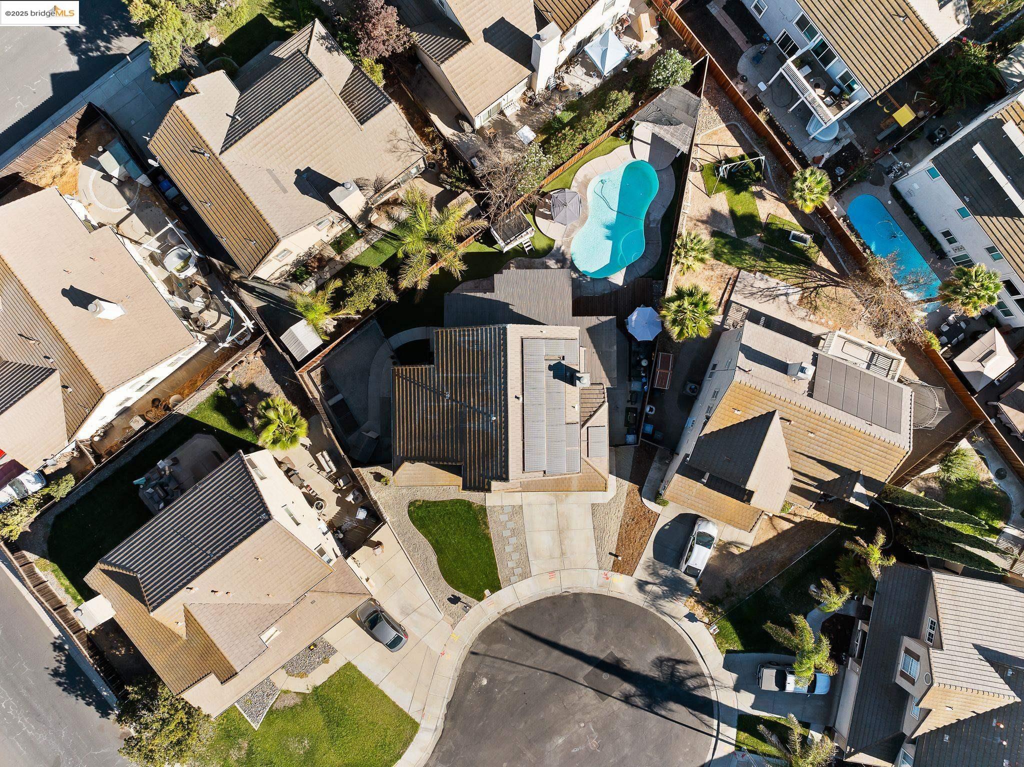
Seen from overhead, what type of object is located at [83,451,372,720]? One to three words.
house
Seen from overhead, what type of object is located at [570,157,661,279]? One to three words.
swimming pool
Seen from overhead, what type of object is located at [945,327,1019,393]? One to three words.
gazebo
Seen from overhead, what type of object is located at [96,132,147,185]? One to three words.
shed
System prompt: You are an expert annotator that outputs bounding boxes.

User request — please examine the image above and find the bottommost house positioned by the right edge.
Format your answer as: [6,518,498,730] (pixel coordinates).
[838,558,1024,767]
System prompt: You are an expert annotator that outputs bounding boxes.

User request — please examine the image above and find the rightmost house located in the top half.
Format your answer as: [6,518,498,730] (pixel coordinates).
[893,83,1024,320]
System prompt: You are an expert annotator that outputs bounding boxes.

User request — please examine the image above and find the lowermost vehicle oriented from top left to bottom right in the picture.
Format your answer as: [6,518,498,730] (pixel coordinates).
[357,599,409,654]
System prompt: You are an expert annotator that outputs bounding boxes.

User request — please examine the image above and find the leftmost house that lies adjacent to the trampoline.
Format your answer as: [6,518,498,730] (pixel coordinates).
[662,320,914,533]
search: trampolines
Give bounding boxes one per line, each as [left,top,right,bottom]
[896,378,953,436]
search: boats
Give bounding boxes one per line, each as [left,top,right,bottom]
[167,246,199,278]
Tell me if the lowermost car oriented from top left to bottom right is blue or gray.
gray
